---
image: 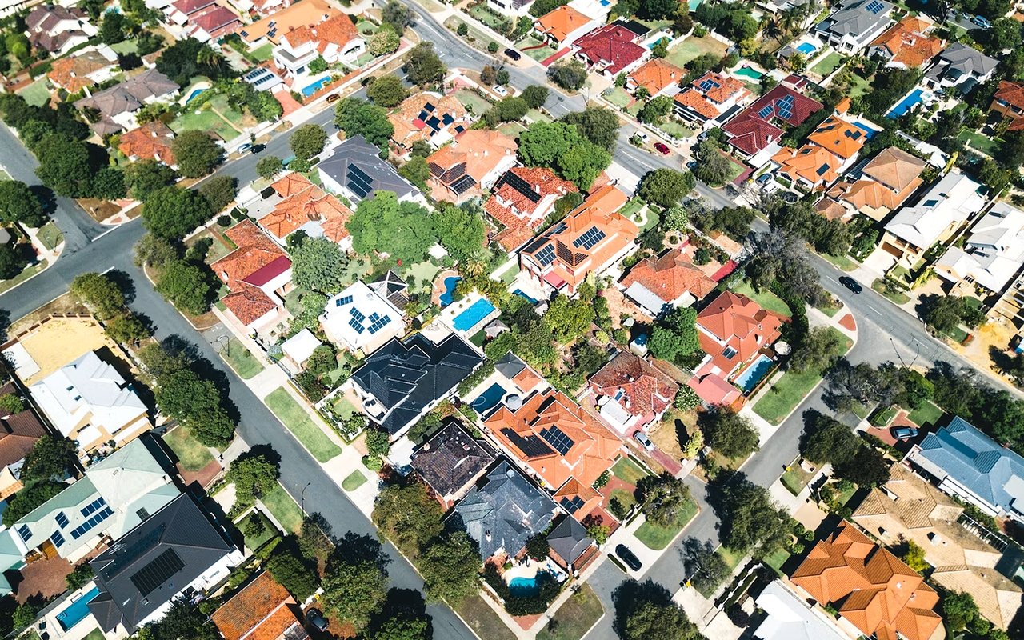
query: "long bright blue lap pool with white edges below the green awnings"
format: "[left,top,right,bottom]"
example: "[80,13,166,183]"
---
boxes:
[882,86,931,121]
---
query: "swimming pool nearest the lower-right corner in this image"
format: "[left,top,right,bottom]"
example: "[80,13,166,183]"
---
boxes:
[732,350,776,393]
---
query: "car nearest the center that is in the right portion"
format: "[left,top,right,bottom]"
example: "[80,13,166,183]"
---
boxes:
[631,428,659,455]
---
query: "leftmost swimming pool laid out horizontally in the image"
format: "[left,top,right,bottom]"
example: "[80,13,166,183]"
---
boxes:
[100,3,128,16]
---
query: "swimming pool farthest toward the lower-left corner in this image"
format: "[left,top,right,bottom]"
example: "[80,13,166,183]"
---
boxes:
[50,582,105,637]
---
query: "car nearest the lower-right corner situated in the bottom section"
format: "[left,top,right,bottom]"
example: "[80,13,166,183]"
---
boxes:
[890,425,923,441]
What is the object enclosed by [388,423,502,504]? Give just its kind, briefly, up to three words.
house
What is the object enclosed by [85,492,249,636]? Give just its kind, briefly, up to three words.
house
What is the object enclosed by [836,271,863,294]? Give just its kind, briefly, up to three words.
car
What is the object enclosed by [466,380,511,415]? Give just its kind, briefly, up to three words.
swimming pool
